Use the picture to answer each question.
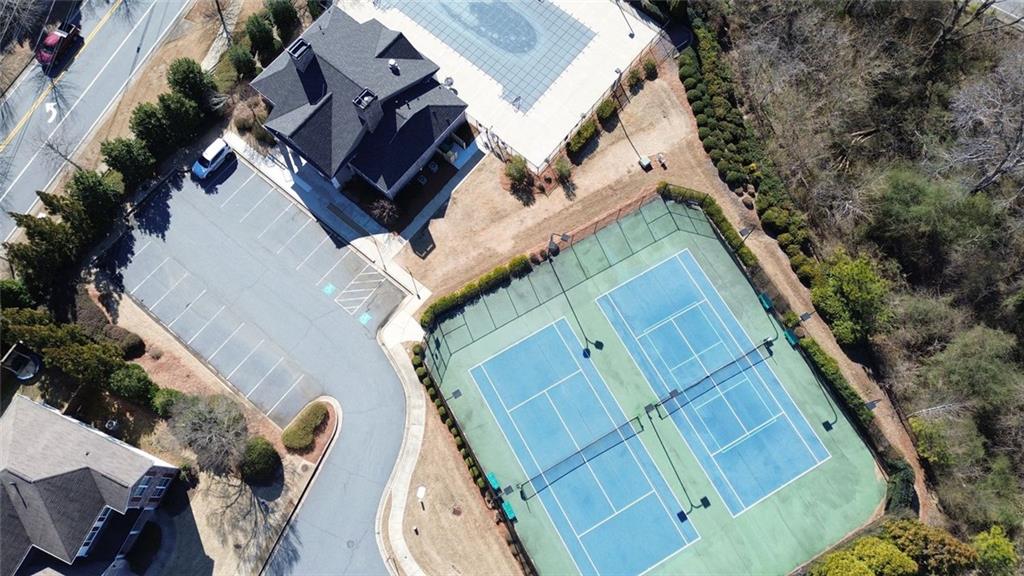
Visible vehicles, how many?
2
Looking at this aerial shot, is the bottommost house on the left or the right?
left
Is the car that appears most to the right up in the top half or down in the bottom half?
top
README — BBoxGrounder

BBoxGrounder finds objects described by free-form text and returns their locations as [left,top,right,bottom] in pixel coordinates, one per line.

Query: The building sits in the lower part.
[0,393,175,576]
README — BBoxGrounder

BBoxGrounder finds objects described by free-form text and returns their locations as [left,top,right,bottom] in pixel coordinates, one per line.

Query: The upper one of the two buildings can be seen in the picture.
[250,3,468,199]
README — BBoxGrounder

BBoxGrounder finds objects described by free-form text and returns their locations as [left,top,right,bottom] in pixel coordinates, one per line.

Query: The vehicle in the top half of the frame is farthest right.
[191,138,231,174]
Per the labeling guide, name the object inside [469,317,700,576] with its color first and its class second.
blue tennis court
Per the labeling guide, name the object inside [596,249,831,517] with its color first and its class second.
blue tennis court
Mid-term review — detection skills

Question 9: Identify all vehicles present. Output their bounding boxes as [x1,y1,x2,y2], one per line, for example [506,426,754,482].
[191,138,231,174]
[33,13,80,58]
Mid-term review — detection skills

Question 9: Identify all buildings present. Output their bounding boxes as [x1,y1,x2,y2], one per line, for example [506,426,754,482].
[0,393,175,576]
[250,3,468,199]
